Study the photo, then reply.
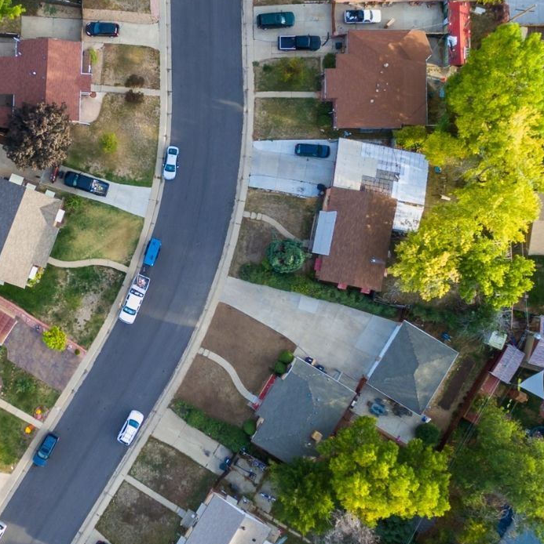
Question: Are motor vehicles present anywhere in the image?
Yes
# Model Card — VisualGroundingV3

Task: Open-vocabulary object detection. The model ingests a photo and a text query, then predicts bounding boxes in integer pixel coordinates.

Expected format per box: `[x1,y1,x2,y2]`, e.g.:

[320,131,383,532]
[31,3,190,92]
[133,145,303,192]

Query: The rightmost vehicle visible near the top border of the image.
[343,6,382,25]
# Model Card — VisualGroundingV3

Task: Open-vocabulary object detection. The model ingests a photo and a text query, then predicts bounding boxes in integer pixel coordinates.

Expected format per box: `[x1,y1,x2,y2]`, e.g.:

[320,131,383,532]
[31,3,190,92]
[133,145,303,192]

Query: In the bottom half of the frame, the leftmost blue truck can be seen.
[32,430,61,469]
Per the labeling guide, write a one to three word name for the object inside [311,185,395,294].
house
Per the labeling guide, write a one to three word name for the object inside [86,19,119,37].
car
